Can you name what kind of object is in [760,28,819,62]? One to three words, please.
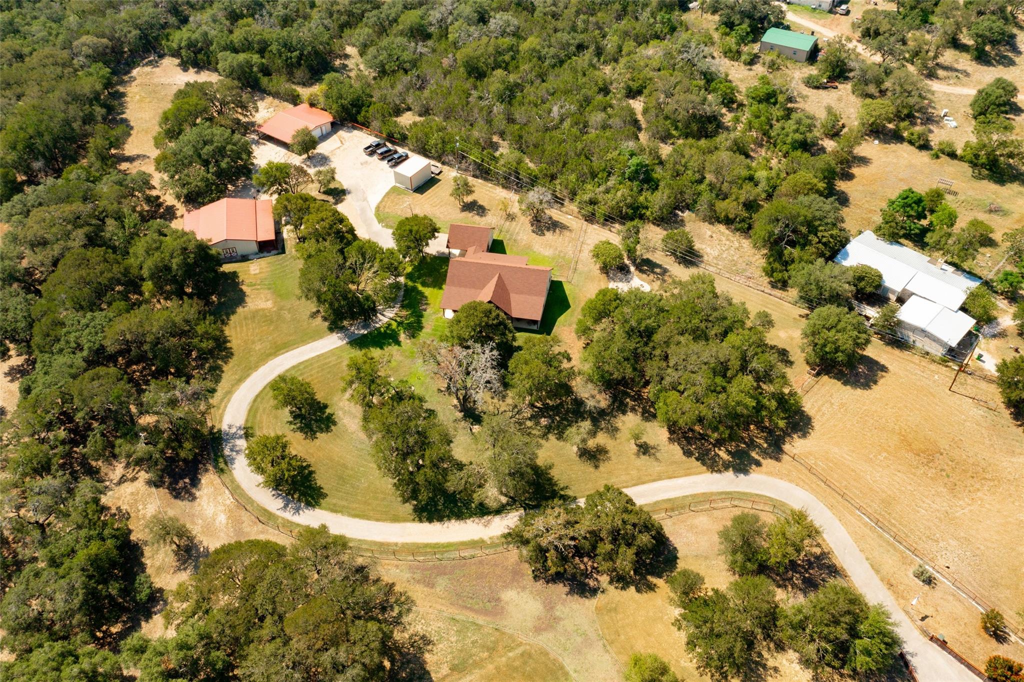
shed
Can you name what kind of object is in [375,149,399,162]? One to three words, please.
vehicle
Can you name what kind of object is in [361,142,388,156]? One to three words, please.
vehicle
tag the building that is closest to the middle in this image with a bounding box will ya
[438,221,554,330]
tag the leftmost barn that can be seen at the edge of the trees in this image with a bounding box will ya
[182,198,279,263]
